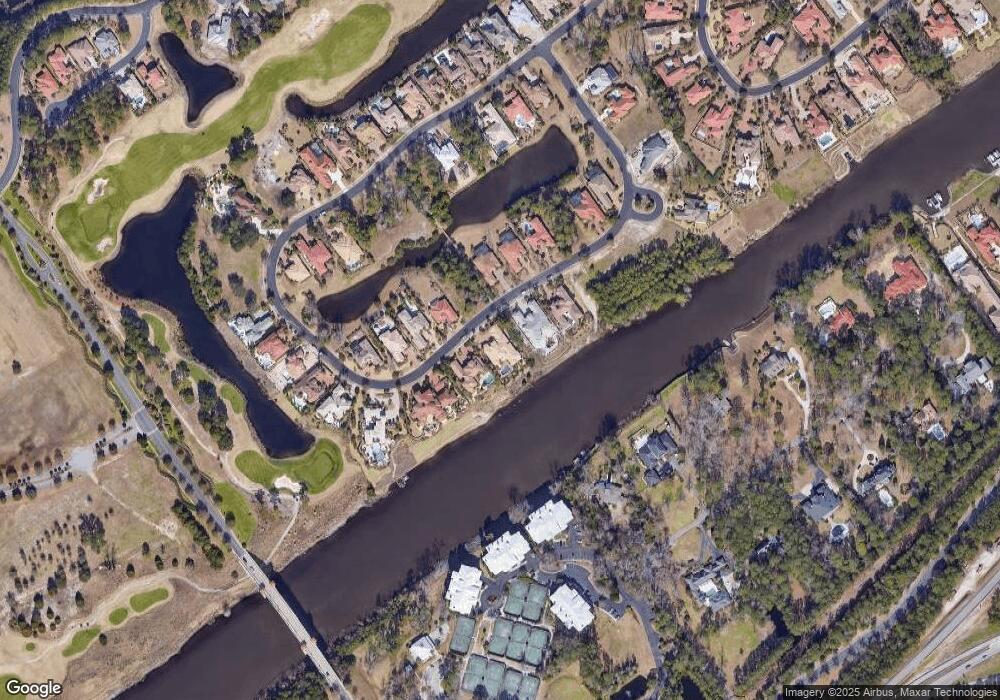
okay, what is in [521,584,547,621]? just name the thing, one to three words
tennis court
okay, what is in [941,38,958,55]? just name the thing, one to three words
swimming pool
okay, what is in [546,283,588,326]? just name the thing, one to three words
house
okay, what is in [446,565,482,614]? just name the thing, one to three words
building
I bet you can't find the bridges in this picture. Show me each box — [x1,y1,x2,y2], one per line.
[207,504,355,700]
